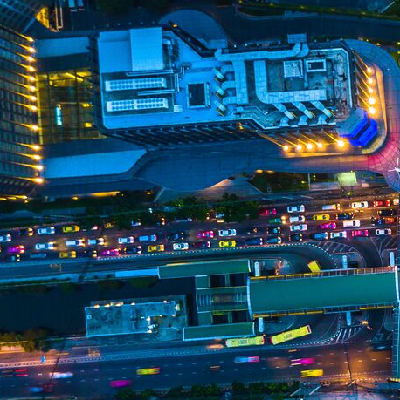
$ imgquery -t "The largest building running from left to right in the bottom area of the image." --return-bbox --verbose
[86,299,183,337]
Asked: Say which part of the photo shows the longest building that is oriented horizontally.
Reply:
top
